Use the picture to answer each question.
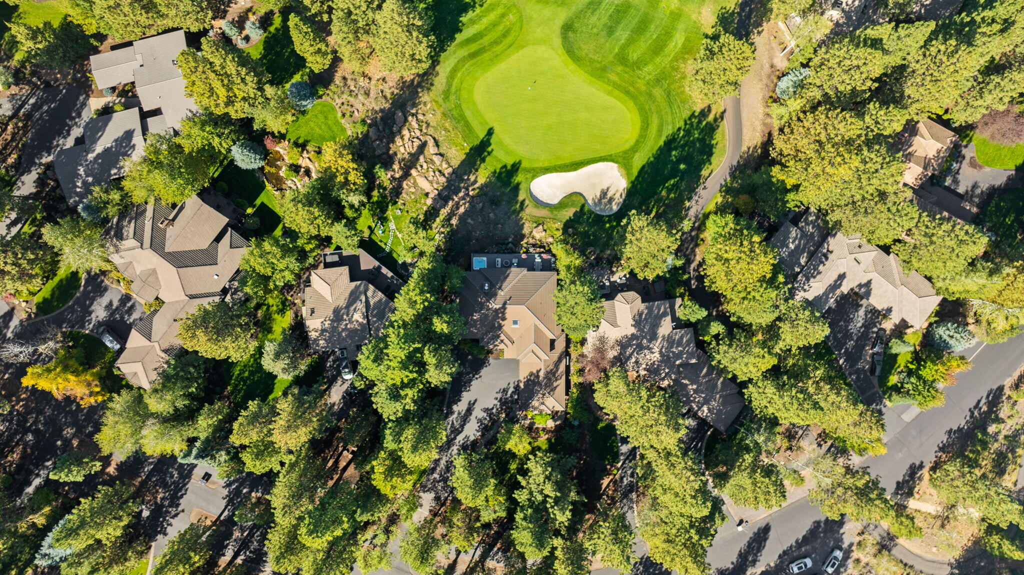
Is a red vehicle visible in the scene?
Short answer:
No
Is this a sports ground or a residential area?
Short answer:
residential area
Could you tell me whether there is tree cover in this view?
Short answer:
Yes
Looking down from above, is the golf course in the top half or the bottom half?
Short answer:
top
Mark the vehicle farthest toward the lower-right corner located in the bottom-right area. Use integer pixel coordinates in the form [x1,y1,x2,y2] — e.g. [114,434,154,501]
[823,551,844,575]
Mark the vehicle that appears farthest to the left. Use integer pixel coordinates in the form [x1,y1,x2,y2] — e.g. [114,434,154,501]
[94,327,120,352]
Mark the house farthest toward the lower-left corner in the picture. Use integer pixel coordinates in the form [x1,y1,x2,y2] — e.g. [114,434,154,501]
[101,194,248,389]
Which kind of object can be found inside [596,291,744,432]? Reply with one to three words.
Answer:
house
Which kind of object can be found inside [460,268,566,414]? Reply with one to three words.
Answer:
house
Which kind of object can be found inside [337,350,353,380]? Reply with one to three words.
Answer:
vehicle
